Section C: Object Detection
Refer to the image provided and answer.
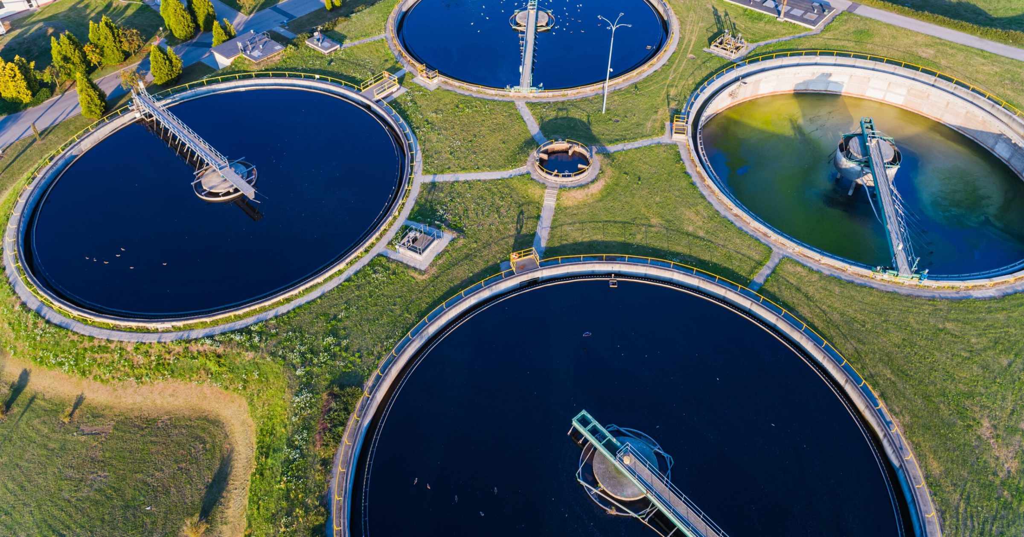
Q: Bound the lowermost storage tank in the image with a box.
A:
[330,252,947,537]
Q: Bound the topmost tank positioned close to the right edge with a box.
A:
[679,49,1024,290]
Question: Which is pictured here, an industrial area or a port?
industrial area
